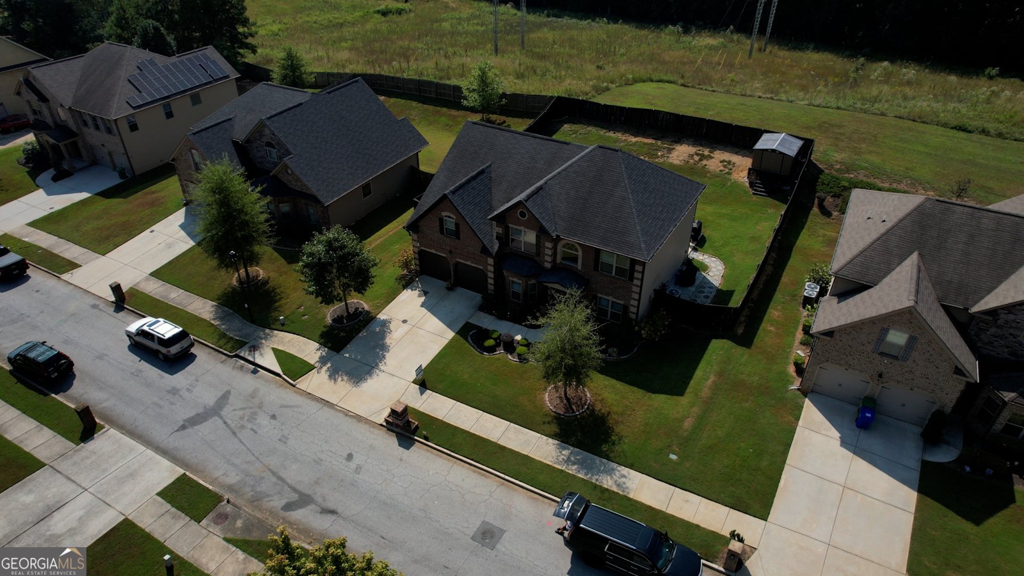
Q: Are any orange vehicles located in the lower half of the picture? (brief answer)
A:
No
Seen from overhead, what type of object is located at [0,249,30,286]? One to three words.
truck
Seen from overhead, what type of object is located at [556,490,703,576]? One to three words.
car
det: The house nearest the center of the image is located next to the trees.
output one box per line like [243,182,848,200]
[402,120,710,329]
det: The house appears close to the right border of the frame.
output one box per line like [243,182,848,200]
[790,181,1024,448]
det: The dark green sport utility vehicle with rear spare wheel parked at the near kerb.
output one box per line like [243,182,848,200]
[5,339,77,387]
